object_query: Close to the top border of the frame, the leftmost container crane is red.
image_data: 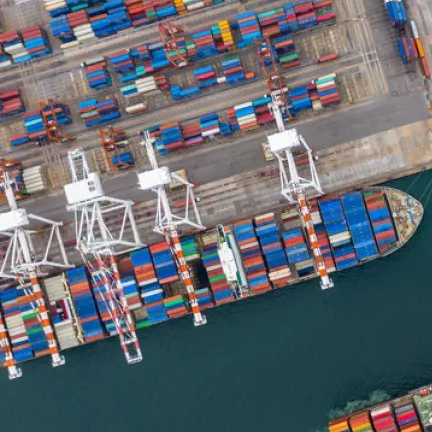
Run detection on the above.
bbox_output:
[157,20,195,74]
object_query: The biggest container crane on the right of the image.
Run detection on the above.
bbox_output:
[265,91,334,293]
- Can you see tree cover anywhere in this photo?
No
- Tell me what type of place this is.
port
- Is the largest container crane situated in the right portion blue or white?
white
